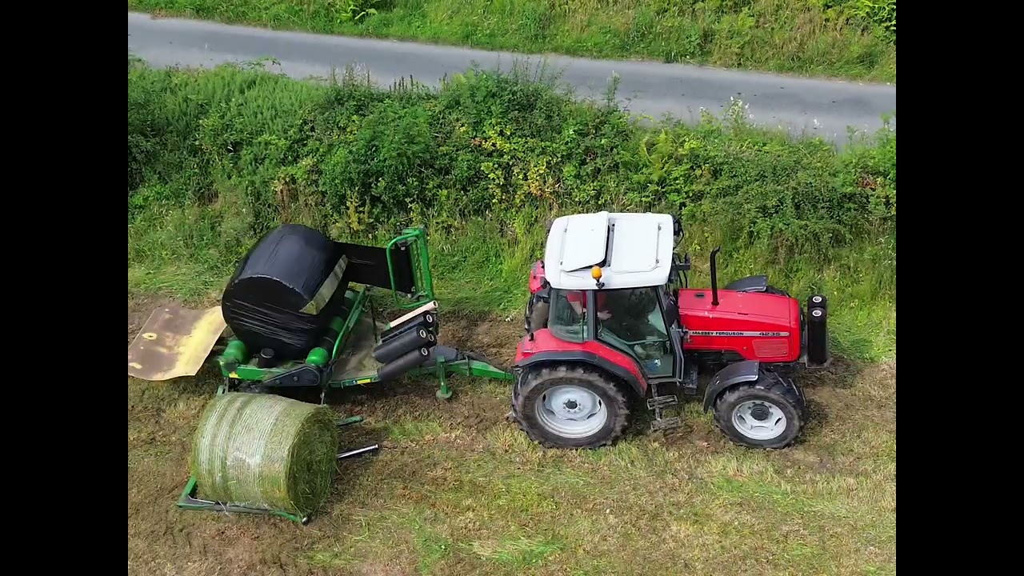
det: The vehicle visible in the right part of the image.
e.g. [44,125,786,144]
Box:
[480,209,834,449]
